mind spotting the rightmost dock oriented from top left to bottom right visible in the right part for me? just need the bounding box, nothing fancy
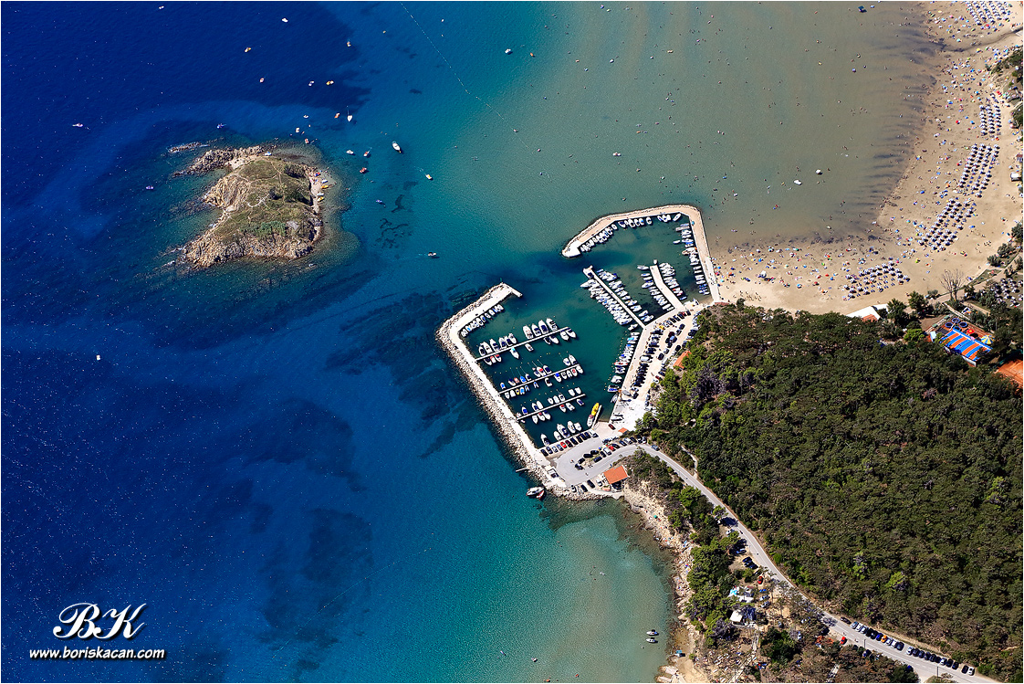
[650,265,684,310]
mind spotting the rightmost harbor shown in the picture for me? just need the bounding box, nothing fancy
[535,303,713,498]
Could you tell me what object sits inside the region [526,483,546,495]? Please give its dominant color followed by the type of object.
white boat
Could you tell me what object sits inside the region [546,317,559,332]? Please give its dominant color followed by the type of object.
white boat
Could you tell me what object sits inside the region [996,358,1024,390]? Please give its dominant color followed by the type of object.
orange tennis court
